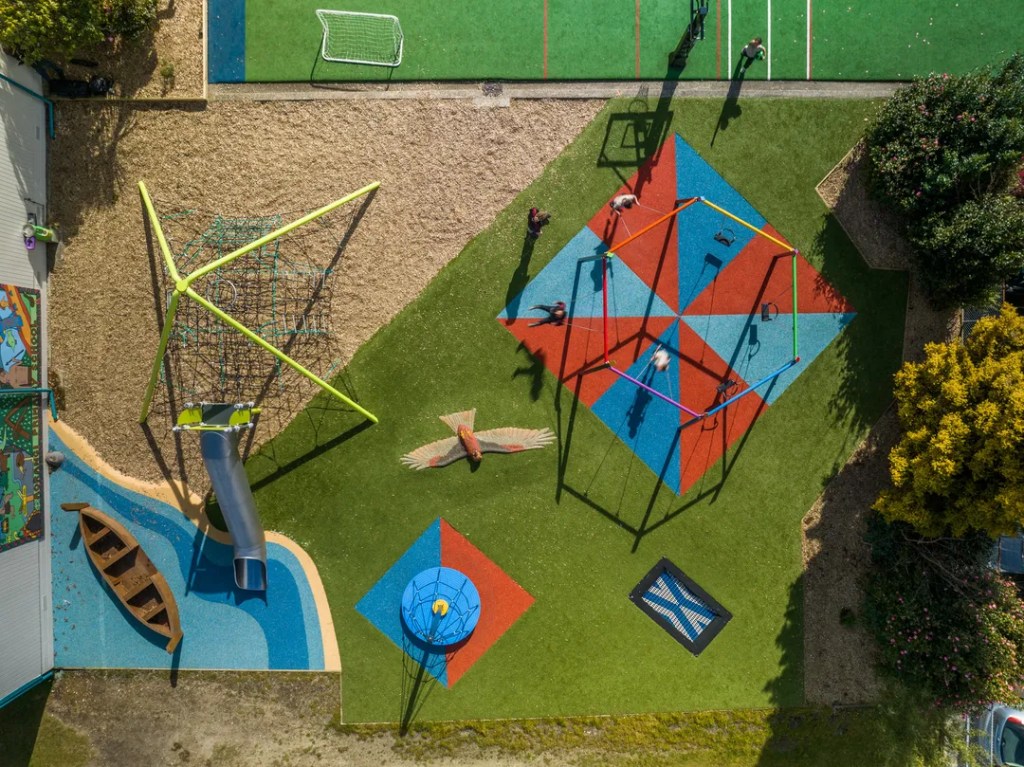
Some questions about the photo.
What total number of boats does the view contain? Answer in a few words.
1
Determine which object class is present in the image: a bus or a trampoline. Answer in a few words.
trampoline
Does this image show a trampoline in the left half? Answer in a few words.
No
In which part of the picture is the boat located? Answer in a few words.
bottom left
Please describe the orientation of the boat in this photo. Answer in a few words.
at an angle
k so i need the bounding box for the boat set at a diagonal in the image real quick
[59,500,188,653]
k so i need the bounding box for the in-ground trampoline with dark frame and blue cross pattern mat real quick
[629,558,732,654]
